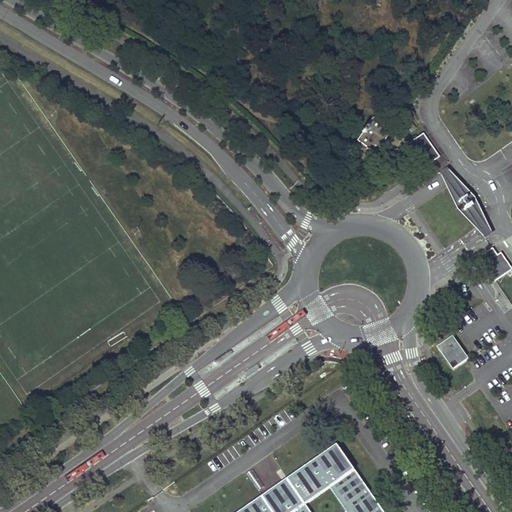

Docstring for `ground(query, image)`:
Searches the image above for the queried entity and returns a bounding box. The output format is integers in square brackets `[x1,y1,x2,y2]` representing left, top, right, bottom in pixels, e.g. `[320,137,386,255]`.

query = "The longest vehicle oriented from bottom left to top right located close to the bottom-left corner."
[66,450,108,482]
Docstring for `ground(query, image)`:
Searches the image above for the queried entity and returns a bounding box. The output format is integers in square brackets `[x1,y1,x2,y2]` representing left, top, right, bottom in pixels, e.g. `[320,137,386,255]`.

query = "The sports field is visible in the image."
[0,62,164,399]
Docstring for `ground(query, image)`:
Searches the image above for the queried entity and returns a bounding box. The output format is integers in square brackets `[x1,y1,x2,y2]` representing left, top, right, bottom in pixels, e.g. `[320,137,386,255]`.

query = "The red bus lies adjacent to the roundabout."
[267,309,308,340]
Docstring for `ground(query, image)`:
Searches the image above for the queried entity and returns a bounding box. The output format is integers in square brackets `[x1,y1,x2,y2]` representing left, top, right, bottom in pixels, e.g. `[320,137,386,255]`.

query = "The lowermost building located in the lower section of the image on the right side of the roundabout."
[437,336,468,370]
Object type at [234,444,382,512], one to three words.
building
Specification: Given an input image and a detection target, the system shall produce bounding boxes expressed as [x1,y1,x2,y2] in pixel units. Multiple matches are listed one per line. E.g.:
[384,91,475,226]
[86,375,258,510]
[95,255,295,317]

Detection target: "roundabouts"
[297,213,430,346]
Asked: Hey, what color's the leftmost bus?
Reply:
red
